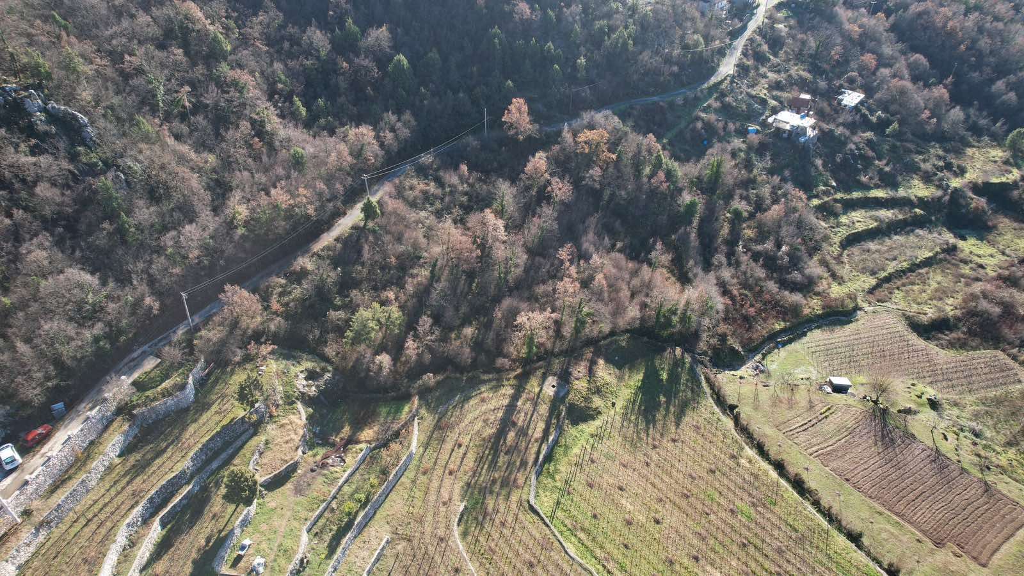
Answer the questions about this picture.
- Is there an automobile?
Yes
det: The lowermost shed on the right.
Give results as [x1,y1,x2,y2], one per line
[827,376,852,393]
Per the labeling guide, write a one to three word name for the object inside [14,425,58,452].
car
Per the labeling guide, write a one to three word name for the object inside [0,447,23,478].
car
